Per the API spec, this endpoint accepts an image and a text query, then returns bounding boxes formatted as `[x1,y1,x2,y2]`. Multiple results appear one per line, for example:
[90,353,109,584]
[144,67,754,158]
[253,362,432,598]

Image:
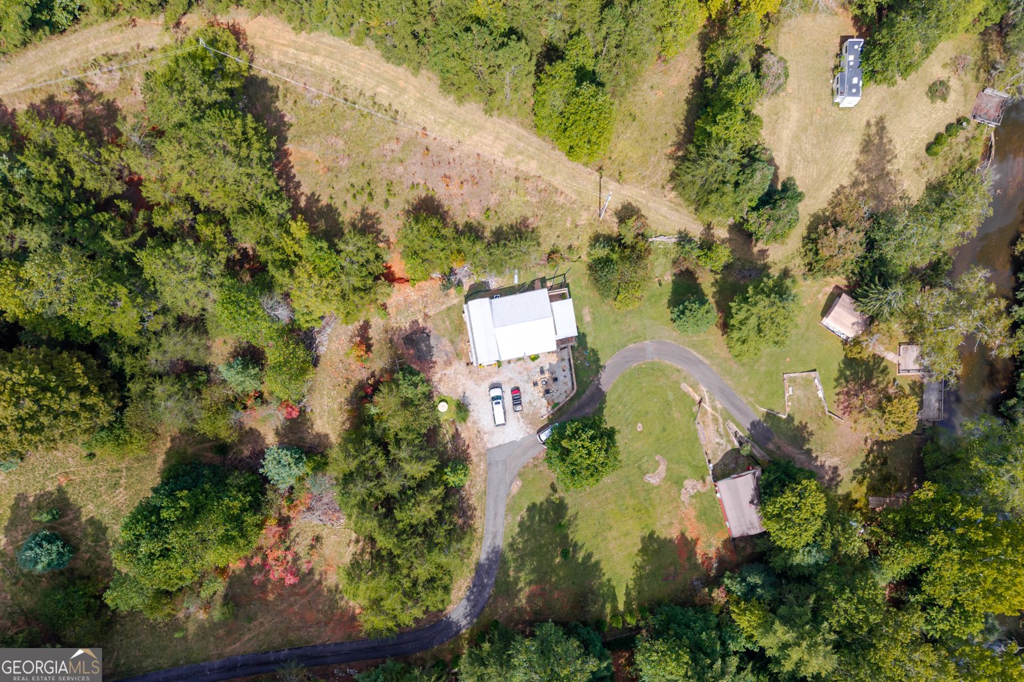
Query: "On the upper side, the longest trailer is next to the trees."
[831,40,862,118]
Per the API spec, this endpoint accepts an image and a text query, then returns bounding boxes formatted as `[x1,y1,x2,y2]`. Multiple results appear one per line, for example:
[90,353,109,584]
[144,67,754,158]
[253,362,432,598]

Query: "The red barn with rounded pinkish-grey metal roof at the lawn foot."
[713,470,767,540]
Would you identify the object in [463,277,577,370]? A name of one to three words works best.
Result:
house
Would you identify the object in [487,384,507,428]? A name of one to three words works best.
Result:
car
